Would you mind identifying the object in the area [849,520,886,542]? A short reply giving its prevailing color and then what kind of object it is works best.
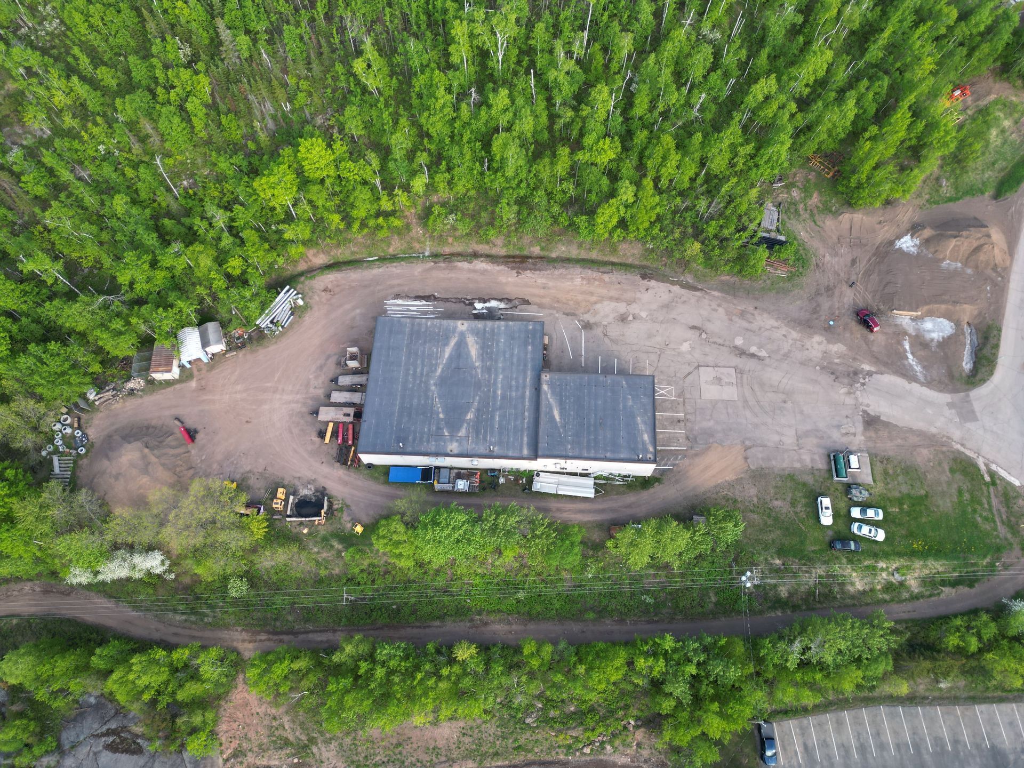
white car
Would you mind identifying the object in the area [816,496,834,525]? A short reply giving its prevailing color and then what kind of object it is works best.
white car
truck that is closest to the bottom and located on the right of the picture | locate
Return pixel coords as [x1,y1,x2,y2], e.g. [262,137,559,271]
[758,723,781,764]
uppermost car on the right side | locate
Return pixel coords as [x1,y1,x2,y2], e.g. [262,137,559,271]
[855,308,881,334]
